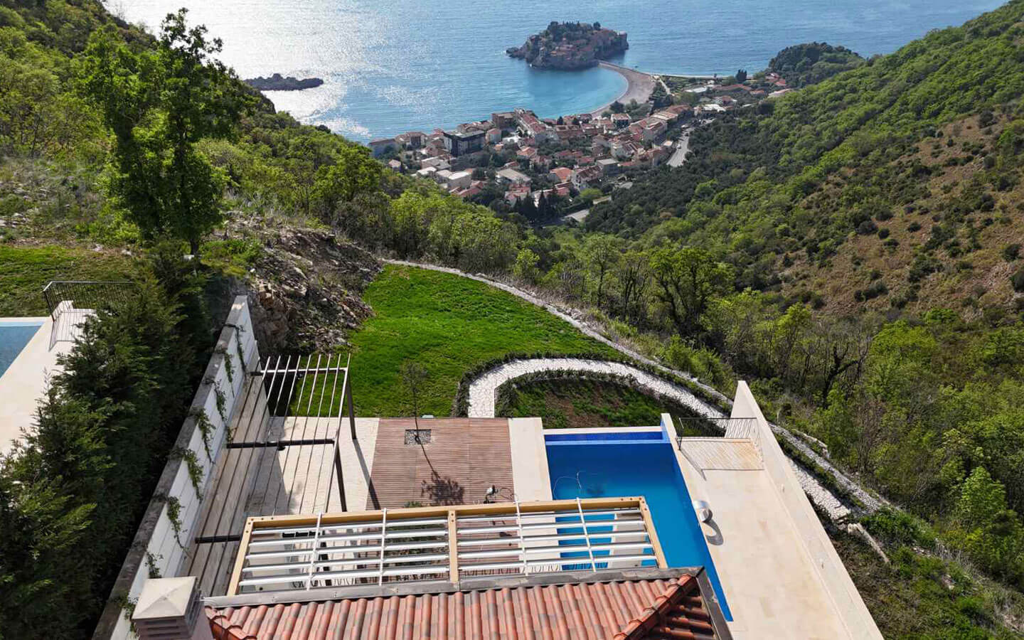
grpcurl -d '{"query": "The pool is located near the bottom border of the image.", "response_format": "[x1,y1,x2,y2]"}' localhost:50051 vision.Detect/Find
[544,415,730,619]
